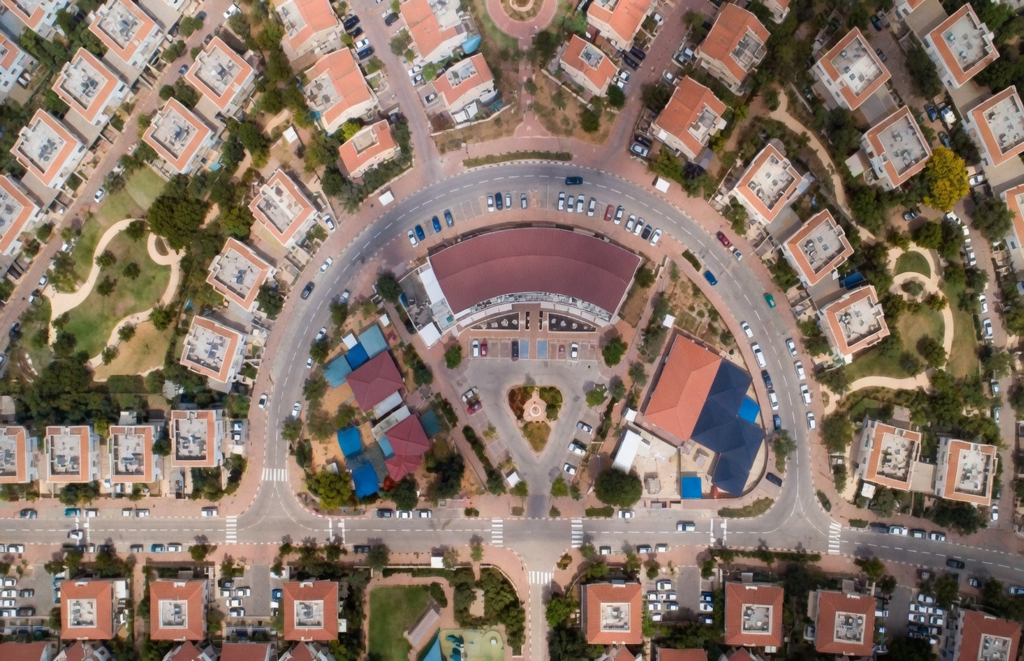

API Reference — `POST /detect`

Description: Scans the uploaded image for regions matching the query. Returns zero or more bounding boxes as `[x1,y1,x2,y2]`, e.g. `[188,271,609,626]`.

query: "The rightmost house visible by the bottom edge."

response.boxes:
[942,607,1021,661]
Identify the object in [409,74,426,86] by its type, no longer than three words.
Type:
vehicle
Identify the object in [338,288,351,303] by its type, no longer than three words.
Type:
vehicle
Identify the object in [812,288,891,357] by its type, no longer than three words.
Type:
house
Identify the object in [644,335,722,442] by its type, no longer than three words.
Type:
building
